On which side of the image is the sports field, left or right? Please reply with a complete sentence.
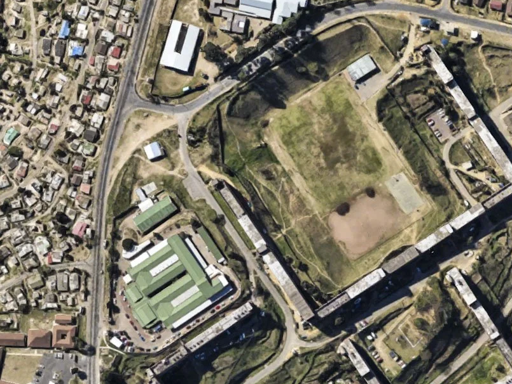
The sports field sits on the right side.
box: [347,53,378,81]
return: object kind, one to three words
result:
building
